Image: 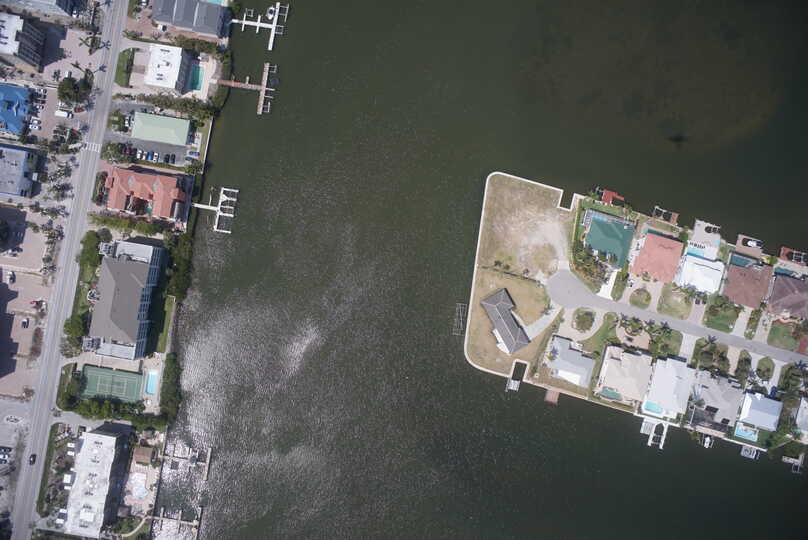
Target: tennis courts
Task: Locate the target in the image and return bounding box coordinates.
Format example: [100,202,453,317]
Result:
[78,365,143,403]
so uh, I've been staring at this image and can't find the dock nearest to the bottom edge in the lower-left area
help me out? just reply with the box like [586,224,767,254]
[148,506,204,540]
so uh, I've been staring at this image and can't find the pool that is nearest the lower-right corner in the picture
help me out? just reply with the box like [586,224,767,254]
[734,423,760,442]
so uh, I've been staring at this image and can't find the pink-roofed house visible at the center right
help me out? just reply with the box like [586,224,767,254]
[628,234,684,283]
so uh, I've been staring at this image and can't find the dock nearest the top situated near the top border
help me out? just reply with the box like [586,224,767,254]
[230,1,281,51]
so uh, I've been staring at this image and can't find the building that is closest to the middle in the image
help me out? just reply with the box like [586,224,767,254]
[481,288,529,354]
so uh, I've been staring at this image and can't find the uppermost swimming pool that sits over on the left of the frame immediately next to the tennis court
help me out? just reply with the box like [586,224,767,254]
[144,373,159,396]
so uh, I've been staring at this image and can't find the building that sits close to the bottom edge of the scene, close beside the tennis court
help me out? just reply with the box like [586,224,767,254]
[65,426,131,538]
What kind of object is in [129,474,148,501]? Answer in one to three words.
swimming pool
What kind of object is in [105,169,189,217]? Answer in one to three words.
house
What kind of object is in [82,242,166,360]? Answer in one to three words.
building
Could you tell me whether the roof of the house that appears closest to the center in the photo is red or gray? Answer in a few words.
gray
